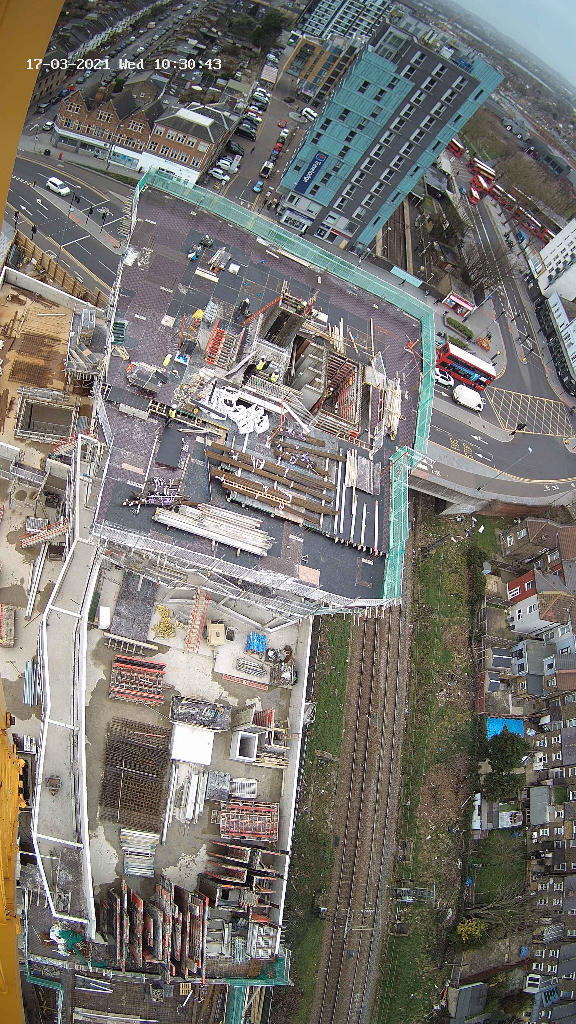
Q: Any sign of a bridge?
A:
Yes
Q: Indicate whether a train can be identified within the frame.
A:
No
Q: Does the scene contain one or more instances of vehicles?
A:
Yes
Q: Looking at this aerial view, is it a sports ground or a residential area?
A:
residential area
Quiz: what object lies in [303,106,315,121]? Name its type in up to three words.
vehicle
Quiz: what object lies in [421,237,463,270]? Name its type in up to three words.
building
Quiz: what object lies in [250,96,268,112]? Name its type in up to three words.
car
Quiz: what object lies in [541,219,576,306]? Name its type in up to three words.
building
